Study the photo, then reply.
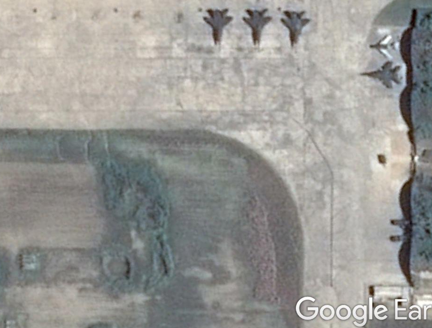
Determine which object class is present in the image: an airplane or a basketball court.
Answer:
airplane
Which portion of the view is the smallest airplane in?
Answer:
top right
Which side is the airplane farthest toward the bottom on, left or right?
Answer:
right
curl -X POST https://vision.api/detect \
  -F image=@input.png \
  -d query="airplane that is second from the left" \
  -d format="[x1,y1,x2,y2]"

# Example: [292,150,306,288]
[244,8,271,46]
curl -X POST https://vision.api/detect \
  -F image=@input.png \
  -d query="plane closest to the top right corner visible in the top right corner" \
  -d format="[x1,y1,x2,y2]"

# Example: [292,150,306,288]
[371,35,398,58]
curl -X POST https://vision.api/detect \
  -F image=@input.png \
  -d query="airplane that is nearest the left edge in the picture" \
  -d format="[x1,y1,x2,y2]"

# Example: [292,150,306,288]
[204,8,232,48]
